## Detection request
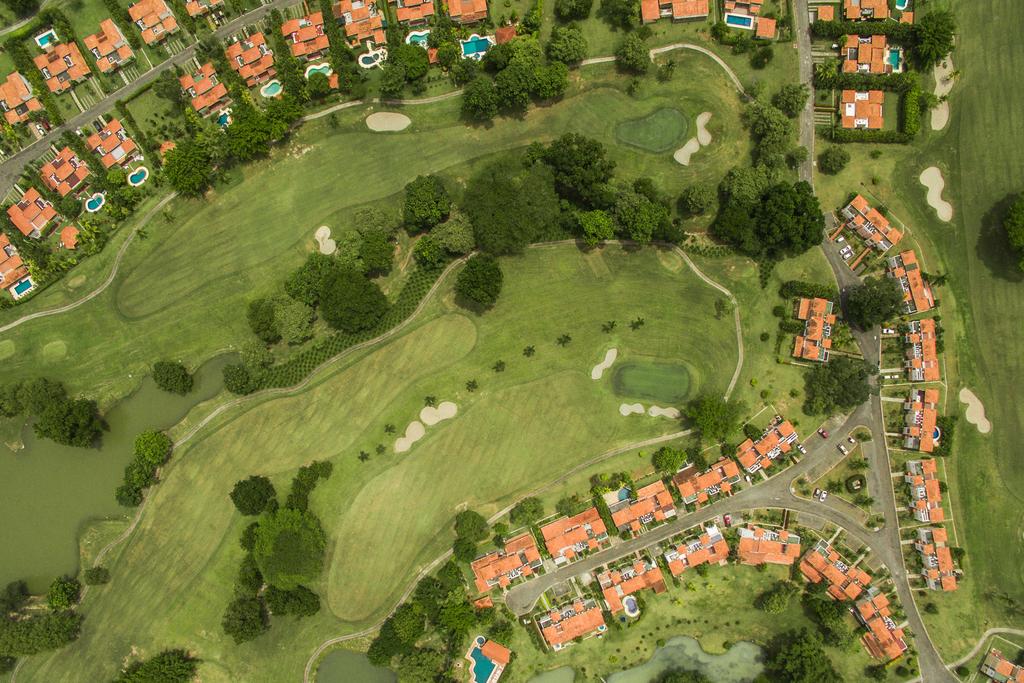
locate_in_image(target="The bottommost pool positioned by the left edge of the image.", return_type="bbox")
[12,276,38,298]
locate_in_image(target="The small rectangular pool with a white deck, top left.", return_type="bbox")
[35,29,58,48]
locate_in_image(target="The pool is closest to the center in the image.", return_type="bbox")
[602,486,632,502]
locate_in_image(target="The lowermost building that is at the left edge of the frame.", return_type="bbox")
[0,239,34,291]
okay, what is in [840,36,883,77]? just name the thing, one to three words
house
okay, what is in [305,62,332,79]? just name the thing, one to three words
swimming pool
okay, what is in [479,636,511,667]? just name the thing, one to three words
shed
